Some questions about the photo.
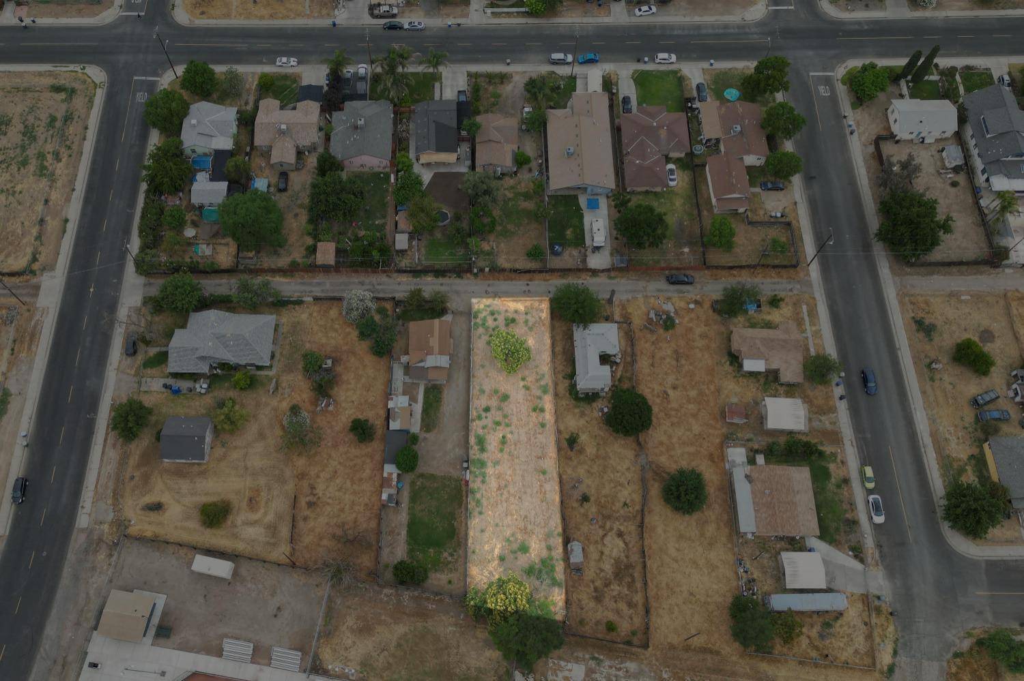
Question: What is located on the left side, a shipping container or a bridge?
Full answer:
You can see a shipping container on the left side.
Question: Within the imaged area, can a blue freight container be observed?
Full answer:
No, there's no blue freight container here.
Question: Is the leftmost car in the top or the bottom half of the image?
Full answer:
You can find the leftmost car in the bottom half.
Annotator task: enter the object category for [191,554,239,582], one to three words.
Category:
shipping container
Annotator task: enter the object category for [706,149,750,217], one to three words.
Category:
house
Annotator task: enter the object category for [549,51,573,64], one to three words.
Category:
vehicle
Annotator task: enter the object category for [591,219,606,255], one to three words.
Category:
vehicle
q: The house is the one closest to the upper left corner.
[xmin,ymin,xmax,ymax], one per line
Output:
[183,101,239,157]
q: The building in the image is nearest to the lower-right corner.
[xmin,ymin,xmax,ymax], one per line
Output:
[982,434,1024,512]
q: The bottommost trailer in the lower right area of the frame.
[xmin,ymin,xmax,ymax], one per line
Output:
[766,593,847,612]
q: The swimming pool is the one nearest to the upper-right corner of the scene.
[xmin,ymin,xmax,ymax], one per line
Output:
[723,88,740,102]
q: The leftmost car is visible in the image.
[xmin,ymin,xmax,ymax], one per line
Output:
[8,473,31,505]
